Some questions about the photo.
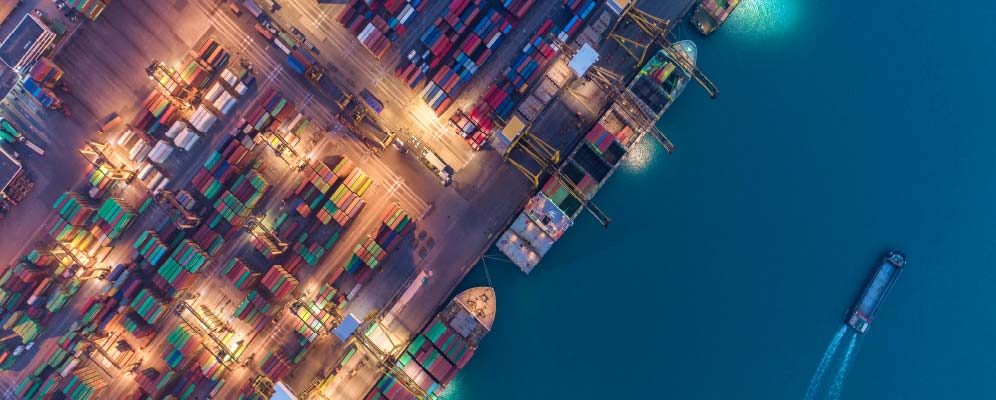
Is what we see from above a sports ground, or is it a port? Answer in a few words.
port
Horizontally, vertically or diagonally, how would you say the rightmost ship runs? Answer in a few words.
diagonally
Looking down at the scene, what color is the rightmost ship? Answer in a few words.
blue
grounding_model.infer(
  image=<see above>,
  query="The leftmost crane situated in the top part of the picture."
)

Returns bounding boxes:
[83,138,140,180]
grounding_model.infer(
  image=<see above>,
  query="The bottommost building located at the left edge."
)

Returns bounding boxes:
[0,147,29,195]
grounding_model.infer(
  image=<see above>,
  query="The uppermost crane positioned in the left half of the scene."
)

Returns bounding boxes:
[146,62,200,107]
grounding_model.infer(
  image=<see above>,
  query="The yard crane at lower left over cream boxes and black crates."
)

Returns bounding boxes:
[84,335,141,381]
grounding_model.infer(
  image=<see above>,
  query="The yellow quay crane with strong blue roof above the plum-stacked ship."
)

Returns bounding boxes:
[324,305,426,400]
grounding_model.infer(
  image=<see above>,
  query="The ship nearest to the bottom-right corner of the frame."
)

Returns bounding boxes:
[848,255,907,333]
